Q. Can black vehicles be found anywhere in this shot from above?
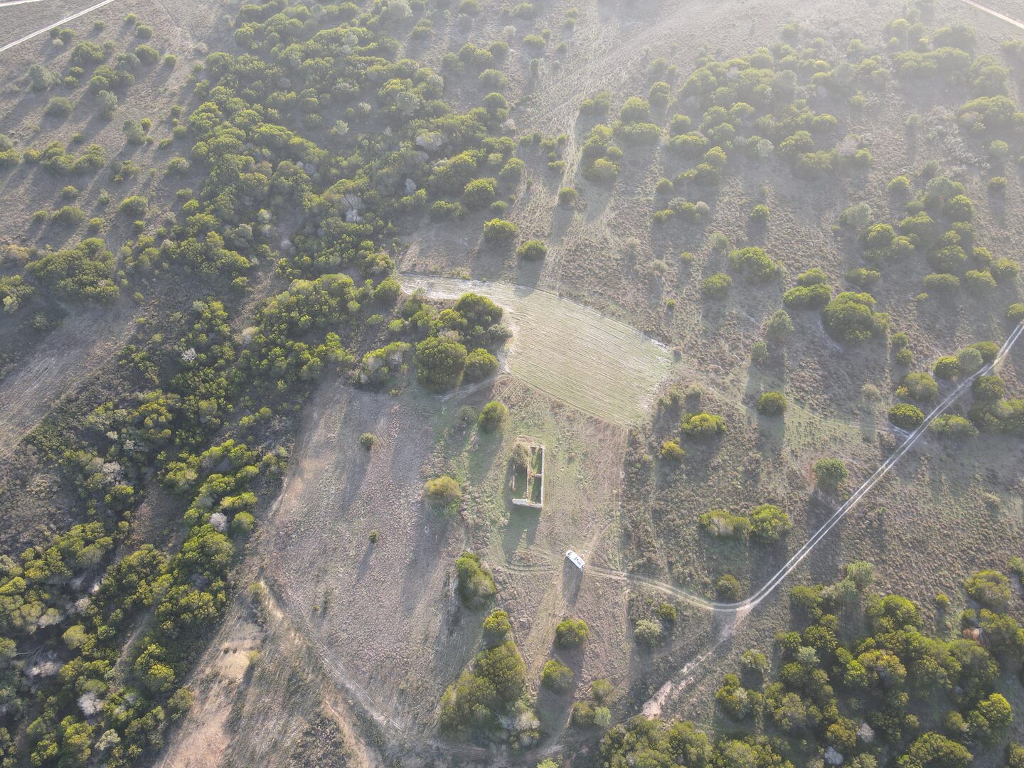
No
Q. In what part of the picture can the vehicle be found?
bottom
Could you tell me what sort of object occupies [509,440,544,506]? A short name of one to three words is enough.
house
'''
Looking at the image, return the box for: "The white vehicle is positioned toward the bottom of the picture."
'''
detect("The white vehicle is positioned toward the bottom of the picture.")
[563,552,590,577]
